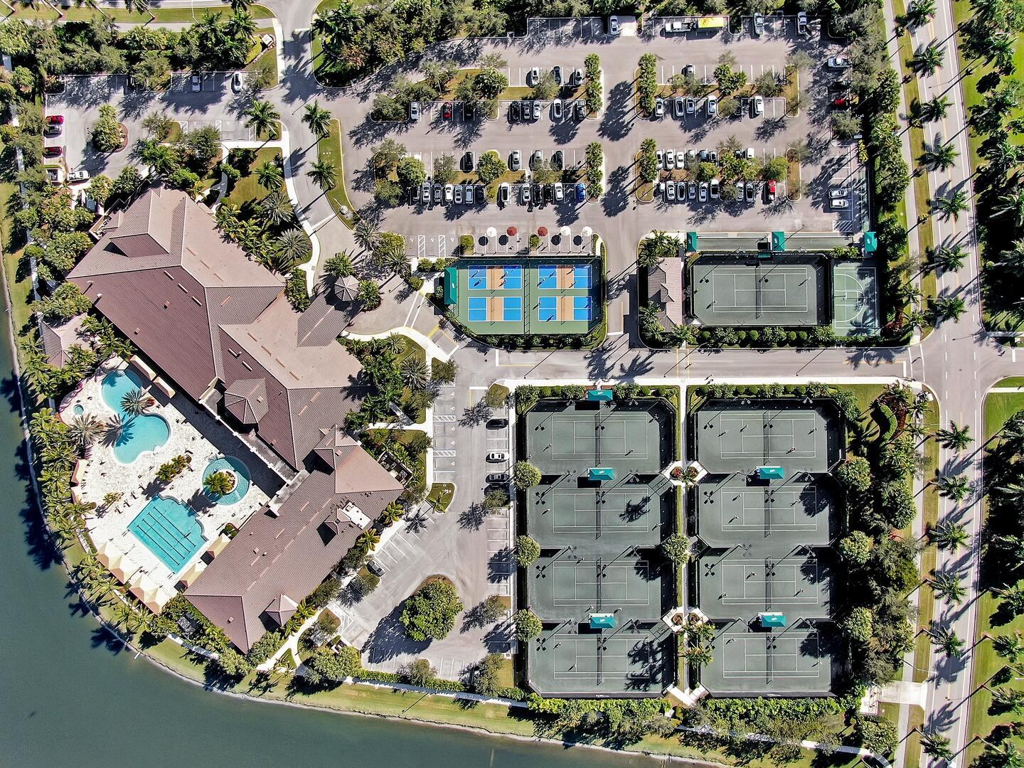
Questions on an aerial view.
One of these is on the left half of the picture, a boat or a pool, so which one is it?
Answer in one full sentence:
Visible on the left half of the picture is a pool.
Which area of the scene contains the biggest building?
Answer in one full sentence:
You can find the biggest building in the left area of the picture.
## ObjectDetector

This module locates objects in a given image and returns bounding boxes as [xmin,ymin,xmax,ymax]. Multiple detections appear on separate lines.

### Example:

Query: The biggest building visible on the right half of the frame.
[648,257,682,325]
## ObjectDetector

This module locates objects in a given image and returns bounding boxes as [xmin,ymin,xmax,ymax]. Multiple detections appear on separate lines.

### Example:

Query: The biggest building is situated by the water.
[65,181,404,655]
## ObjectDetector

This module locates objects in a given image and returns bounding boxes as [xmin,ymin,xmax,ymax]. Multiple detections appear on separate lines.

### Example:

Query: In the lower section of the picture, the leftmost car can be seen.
[367,559,386,577]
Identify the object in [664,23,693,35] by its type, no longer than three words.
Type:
vehicle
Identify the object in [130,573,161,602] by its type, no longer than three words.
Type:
tent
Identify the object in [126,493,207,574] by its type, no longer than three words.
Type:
swimming pool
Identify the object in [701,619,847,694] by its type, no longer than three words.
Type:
tennis court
